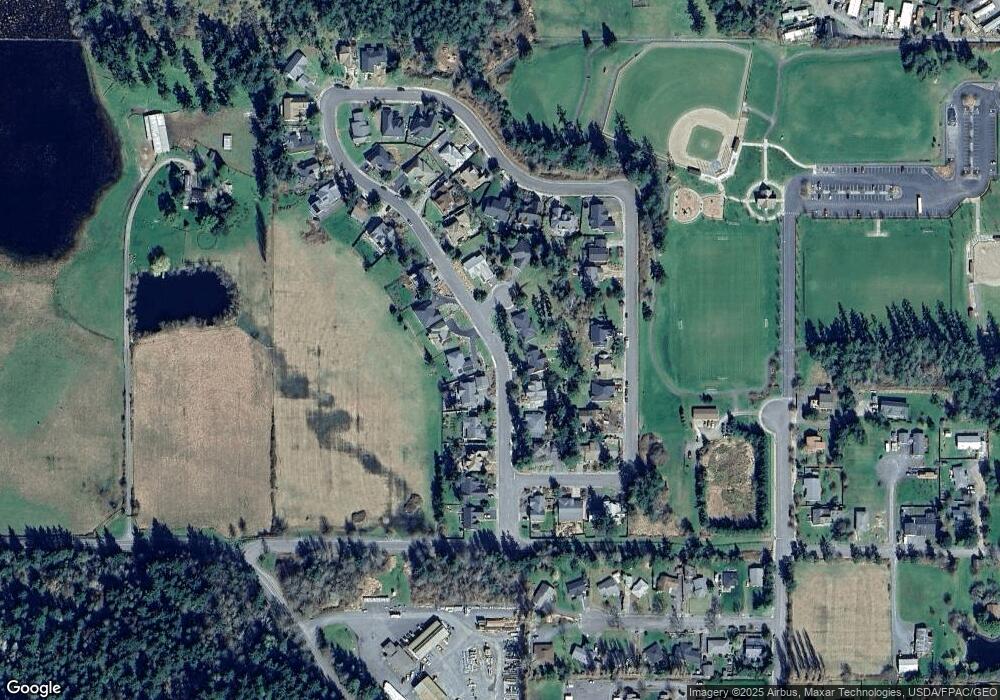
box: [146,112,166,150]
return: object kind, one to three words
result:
barn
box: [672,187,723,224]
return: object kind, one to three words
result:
playground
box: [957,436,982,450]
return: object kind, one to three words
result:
house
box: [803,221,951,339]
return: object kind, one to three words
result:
sports field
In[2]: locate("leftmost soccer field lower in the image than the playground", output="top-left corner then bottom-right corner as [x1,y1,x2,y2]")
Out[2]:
[662,226,773,388]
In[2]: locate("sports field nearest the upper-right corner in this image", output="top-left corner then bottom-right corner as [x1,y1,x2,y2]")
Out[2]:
[782,52,936,161]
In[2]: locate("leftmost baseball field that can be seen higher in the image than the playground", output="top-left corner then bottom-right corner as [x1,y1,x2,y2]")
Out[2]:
[604,42,748,179]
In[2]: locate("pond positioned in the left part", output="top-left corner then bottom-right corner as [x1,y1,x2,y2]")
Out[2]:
[132,266,234,336]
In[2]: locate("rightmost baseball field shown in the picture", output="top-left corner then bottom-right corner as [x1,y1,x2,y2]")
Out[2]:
[974,241,1000,318]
